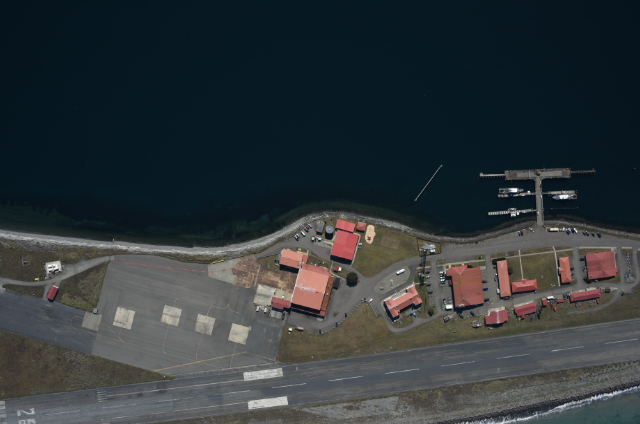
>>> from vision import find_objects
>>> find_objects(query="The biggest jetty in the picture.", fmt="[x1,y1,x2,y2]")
[506,168,571,226]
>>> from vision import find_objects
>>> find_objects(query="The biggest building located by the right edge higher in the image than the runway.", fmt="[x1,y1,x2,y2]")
[584,251,618,280]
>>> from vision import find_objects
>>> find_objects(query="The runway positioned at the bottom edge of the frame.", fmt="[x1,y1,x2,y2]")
[0,318,640,424]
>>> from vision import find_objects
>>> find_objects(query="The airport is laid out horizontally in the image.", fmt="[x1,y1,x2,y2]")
[0,255,640,424]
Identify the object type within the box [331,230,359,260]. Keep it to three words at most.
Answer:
building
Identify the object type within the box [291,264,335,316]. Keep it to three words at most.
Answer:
hangar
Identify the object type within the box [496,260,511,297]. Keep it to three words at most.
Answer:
building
